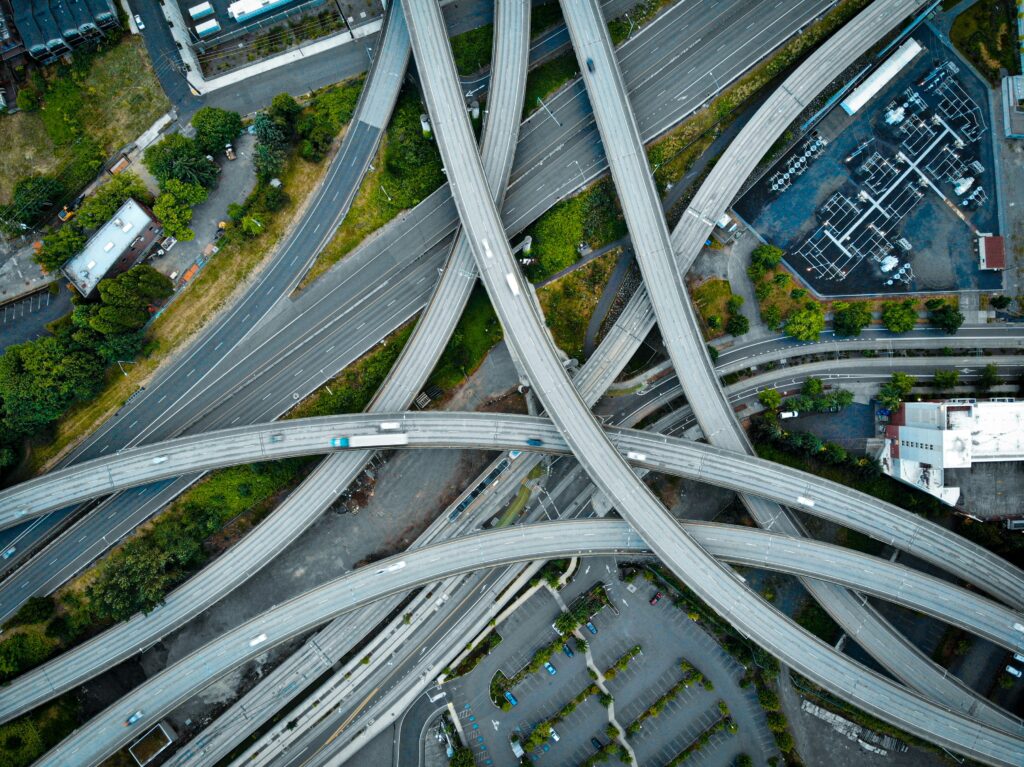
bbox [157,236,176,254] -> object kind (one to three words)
vehicle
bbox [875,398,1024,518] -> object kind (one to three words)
warehouse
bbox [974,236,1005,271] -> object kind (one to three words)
building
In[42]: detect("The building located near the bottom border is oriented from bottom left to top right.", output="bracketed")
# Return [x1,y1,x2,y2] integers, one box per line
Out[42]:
[128,715,180,767]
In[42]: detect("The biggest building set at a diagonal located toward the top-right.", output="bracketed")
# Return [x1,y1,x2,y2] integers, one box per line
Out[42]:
[836,38,922,117]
